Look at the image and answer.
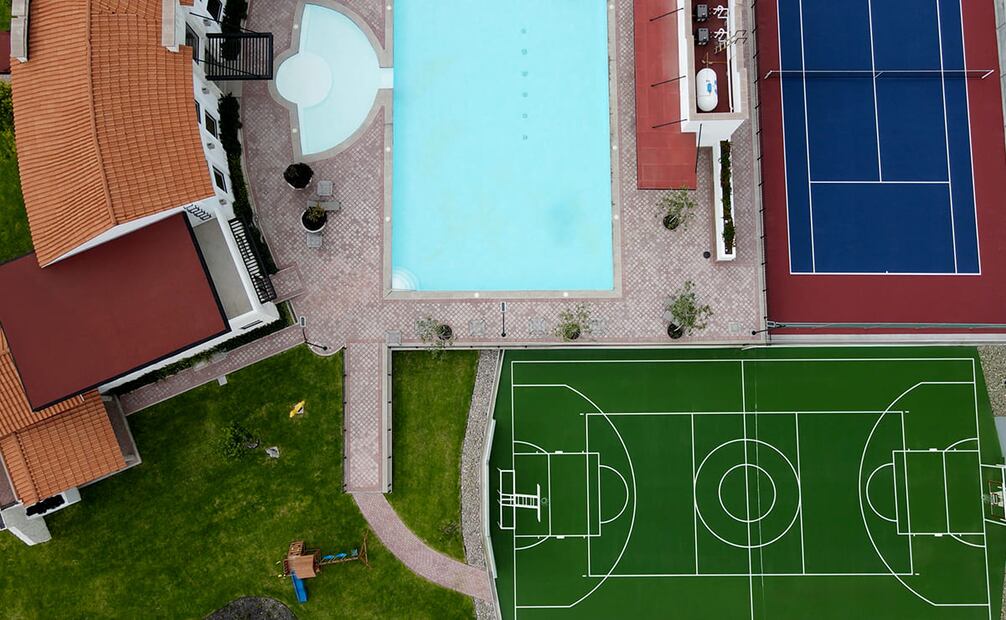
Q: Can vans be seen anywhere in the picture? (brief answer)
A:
No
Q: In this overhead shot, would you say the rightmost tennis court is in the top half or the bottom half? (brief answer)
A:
top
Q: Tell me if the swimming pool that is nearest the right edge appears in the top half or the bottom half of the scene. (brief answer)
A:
top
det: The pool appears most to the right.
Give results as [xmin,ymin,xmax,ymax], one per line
[386,0,621,298]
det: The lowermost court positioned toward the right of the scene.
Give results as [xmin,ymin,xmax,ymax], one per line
[490,348,1006,620]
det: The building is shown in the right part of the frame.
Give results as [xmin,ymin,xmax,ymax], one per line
[633,0,749,190]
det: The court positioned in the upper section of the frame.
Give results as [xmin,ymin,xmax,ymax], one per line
[757,0,1006,333]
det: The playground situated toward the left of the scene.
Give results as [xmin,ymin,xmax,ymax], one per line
[286,532,372,604]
